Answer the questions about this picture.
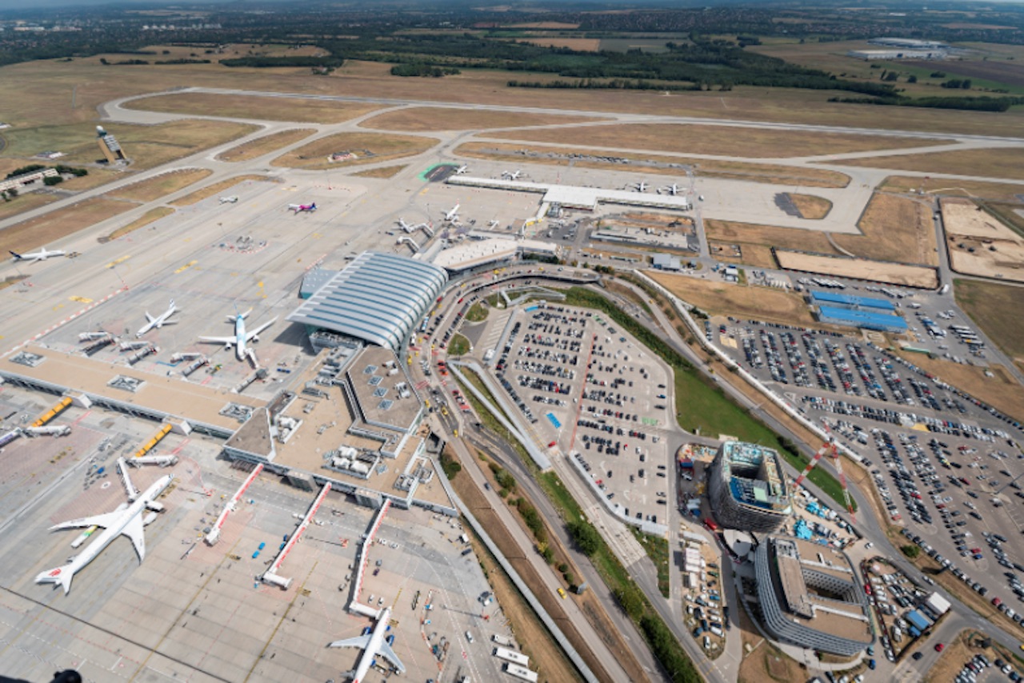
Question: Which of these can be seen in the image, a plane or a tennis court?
plane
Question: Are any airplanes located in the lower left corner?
Yes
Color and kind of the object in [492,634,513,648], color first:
white vehicle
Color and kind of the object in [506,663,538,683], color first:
white vehicle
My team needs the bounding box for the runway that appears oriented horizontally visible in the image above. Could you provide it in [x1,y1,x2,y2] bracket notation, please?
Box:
[182,87,1024,144]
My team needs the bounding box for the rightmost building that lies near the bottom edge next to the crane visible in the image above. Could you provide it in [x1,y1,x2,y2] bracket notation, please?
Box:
[750,537,877,658]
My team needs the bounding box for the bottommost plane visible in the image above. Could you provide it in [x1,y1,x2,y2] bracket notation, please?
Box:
[326,608,402,683]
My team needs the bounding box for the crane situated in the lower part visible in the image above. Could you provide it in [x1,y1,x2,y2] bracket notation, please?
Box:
[793,418,857,524]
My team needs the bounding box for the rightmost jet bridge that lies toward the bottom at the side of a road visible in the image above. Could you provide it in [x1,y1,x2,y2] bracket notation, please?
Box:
[348,500,393,621]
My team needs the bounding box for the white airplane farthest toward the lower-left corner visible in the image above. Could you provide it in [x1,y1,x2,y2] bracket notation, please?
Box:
[39,475,173,589]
